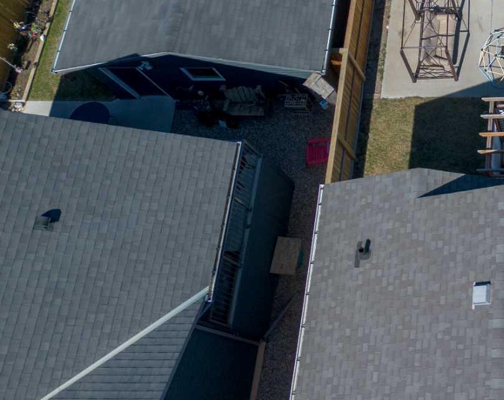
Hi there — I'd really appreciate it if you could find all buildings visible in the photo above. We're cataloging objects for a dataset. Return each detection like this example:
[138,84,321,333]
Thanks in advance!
[0,110,289,400]
[291,167,504,400]
[52,0,350,103]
